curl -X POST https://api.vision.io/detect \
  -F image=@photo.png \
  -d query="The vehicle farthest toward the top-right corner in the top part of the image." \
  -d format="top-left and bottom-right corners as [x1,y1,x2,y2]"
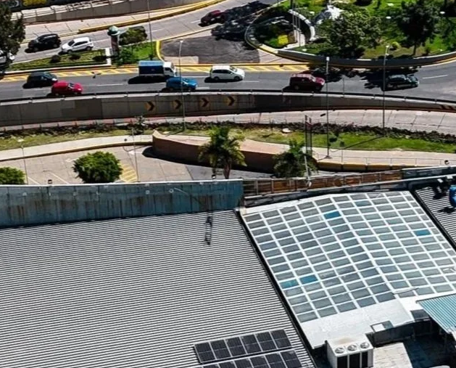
[384,76,415,90]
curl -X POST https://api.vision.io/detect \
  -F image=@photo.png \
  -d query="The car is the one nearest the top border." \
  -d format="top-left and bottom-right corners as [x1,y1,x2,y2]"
[201,11,227,26]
